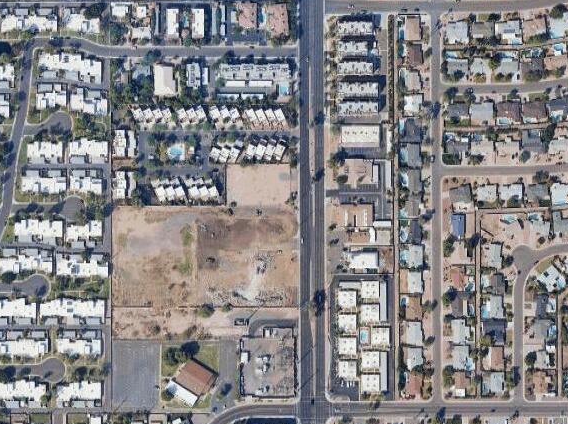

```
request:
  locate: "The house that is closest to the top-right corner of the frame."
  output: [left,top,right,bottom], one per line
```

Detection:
[549,13,568,37]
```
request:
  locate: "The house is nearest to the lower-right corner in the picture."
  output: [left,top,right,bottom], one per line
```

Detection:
[534,372,552,395]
